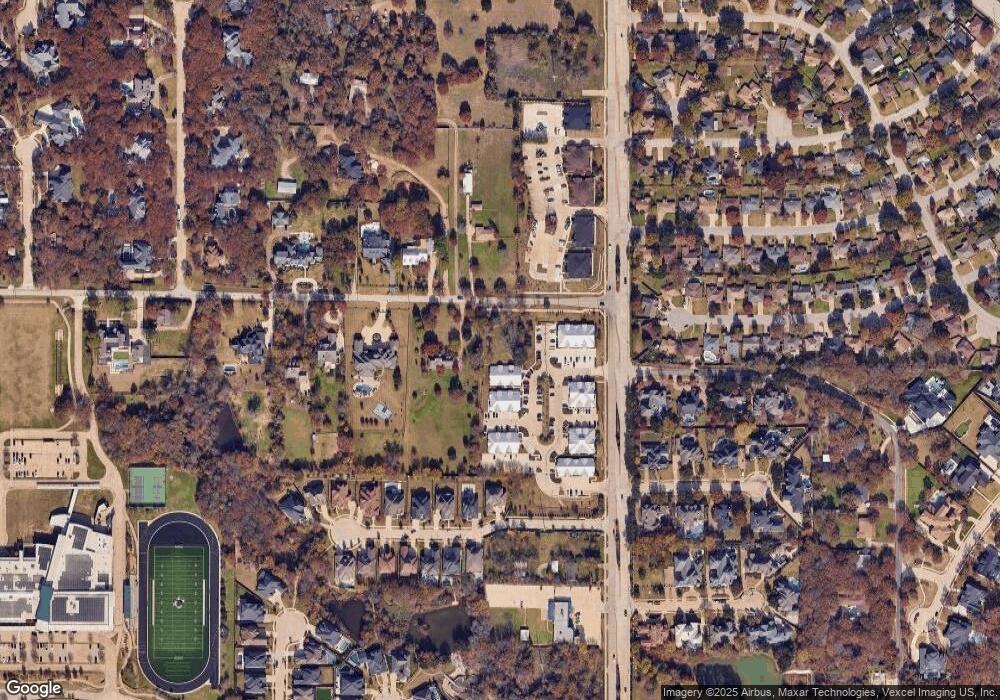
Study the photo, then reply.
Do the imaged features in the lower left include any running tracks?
Yes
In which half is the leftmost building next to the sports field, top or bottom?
bottom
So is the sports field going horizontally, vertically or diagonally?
vertically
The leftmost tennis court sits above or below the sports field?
above it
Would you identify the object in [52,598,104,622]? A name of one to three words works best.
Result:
solar panel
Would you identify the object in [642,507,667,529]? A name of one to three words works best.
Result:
house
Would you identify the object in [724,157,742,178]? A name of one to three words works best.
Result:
house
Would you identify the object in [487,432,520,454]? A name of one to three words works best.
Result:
building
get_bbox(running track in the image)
[138,512,220,693]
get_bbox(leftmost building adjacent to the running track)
[0,504,113,631]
